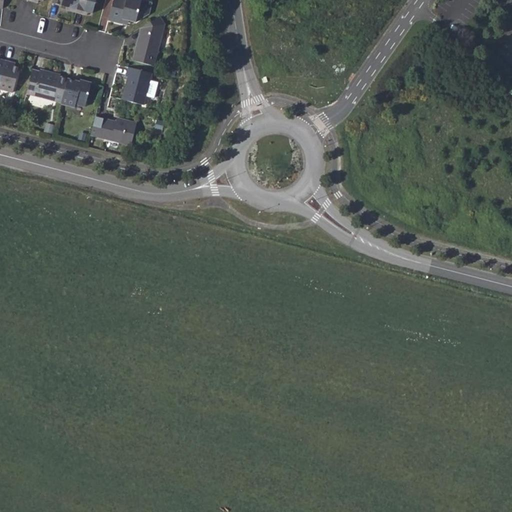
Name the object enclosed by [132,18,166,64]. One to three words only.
house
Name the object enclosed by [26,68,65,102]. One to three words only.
house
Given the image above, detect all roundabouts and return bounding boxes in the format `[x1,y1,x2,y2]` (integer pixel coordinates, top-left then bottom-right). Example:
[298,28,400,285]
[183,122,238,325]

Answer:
[226,113,325,212]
